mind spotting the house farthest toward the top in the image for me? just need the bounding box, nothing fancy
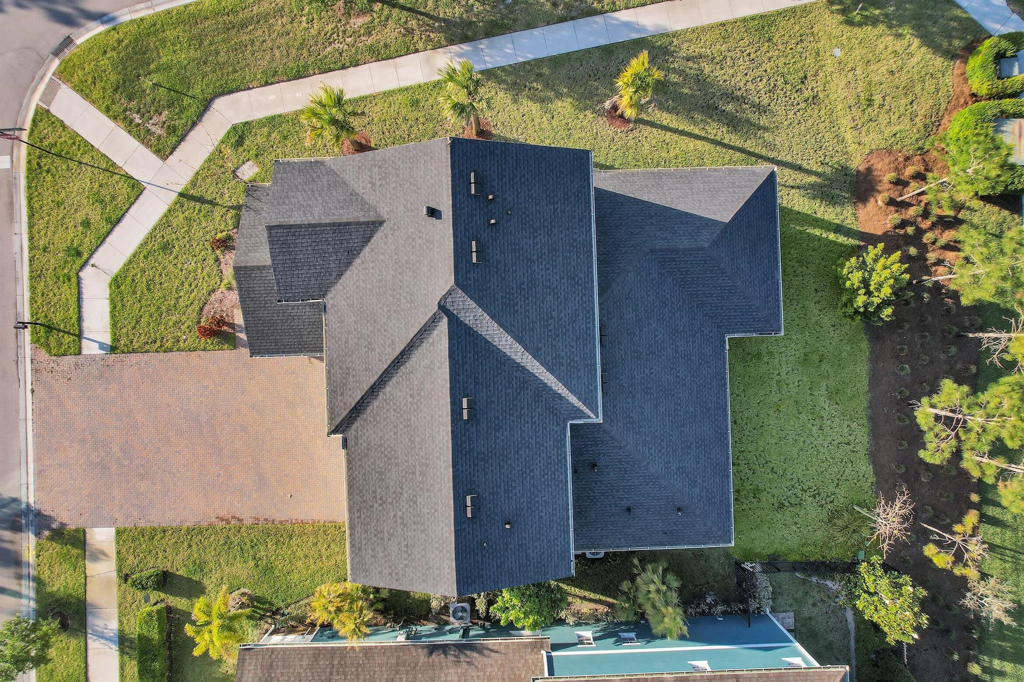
[232,137,787,597]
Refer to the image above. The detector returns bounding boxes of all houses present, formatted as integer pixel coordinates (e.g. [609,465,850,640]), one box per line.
[232,137,787,597]
[230,614,850,682]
